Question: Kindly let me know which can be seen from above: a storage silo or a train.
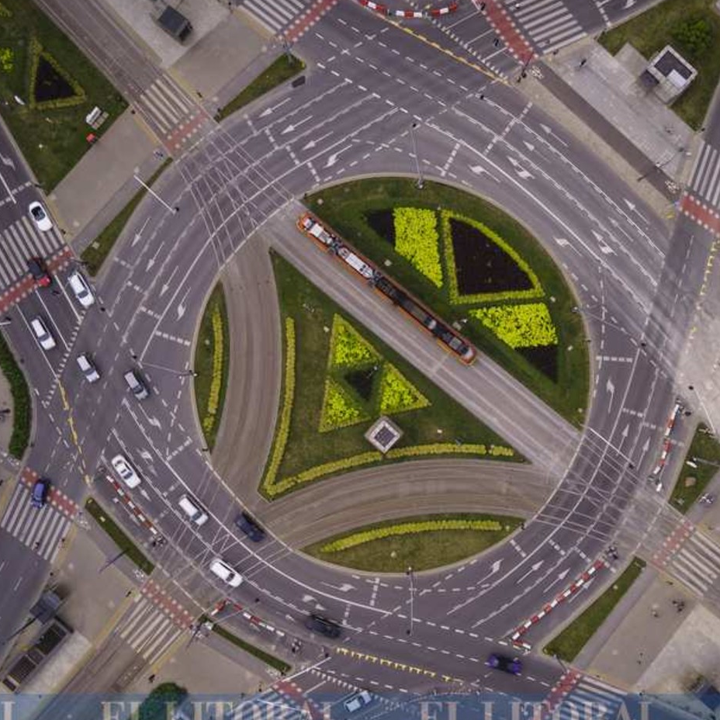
train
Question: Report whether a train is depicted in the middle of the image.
Yes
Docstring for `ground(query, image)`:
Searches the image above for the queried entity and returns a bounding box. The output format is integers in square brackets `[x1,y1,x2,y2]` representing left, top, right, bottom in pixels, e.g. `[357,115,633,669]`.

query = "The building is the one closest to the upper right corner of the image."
[637,45,699,108]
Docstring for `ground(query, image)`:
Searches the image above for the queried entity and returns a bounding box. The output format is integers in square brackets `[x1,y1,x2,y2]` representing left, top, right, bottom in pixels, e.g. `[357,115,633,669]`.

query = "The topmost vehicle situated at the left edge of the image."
[26,197,52,234]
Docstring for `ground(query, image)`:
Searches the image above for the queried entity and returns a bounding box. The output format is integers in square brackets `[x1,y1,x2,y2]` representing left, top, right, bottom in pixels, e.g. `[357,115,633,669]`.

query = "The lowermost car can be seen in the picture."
[342,690,374,716]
